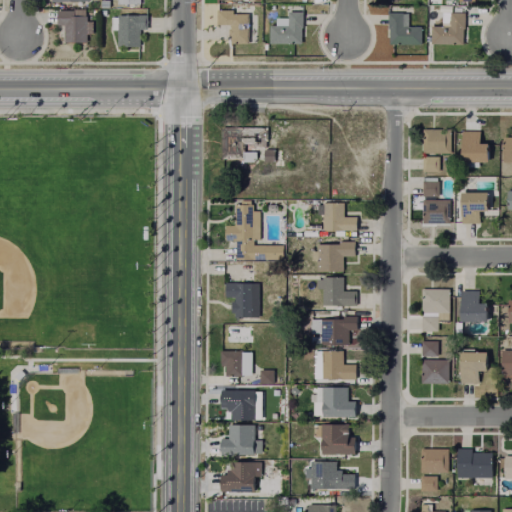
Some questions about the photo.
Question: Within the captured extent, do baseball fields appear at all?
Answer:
Yes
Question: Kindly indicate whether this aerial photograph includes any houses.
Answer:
Yes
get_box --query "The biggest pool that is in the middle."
[266,216,280,241]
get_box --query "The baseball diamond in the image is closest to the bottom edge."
[20,374,152,508]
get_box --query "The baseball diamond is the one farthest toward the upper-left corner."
[0,150,98,338]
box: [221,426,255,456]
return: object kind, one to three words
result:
house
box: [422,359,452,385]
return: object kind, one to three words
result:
house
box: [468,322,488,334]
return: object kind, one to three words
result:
swimming pool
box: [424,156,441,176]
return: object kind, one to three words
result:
building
